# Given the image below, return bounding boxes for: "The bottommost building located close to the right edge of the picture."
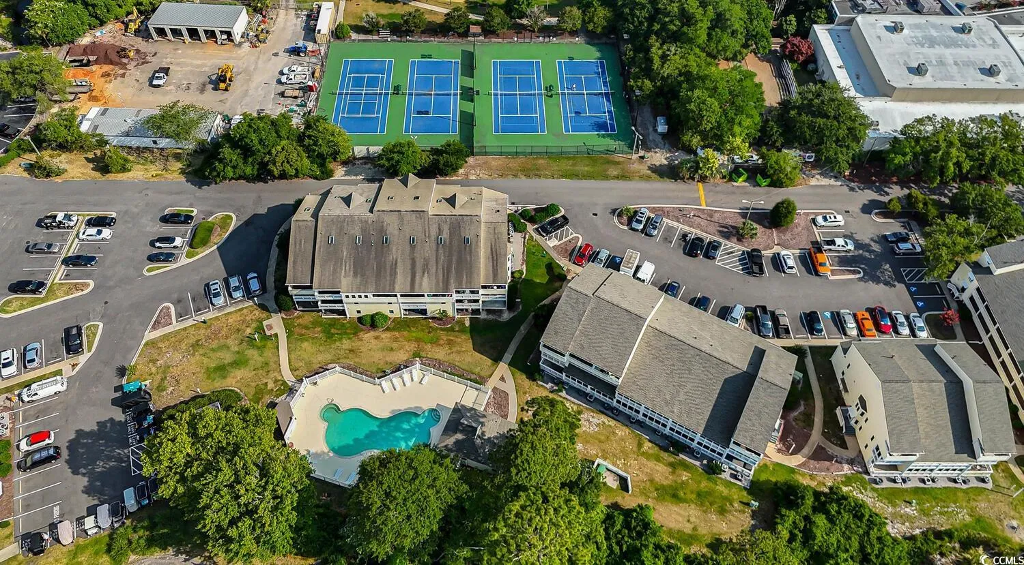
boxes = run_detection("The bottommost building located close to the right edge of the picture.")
[830,340,1015,477]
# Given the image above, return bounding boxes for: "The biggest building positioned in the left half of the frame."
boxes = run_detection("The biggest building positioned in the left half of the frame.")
[286,173,512,323]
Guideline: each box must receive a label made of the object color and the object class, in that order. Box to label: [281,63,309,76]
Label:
white vehicle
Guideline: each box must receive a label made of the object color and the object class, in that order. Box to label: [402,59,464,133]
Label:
blue tennis court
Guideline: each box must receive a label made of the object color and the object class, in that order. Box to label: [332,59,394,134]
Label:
blue tennis court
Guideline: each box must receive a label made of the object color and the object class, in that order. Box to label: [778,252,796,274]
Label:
white car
